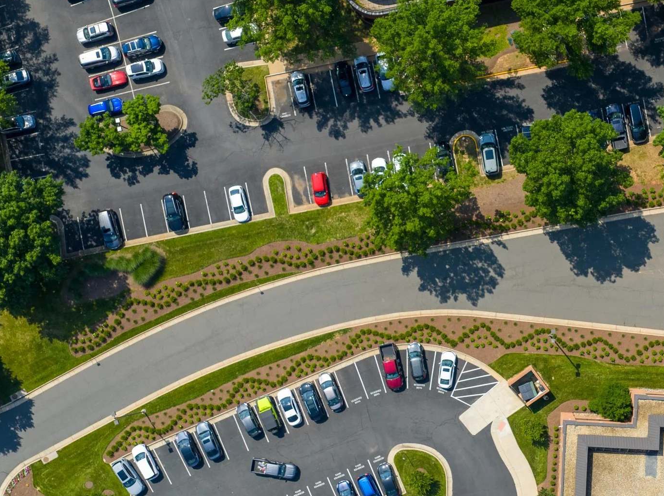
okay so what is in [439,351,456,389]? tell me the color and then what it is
white car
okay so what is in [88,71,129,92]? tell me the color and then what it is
red car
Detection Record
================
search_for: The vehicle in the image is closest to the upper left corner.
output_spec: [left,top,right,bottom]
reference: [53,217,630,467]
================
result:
[0,46,25,68]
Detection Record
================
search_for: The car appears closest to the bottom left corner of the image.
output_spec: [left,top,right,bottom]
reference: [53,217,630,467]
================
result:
[111,457,145,496]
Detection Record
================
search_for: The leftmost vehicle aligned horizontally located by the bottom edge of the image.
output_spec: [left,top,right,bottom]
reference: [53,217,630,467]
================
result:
[249,457,298,482]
